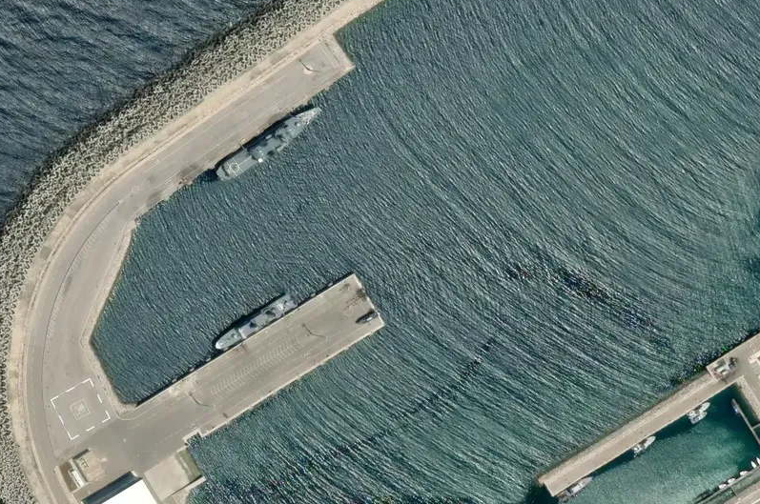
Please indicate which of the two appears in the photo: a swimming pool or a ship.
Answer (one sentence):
The image shows a ship.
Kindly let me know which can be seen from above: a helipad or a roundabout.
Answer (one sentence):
This aerial view contains a helipad.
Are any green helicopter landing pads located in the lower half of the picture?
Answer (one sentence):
No, there is no green helicopter landing pad in the lower half of the picture.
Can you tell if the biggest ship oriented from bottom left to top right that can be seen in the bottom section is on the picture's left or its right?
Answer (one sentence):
You can find the biggest ship oriented from bottom left to top right that can be seen in the bottom section on the left side of the picture.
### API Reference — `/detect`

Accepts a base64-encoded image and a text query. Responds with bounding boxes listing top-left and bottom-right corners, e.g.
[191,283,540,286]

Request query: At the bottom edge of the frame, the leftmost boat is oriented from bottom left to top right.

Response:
[555,478,592,503]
